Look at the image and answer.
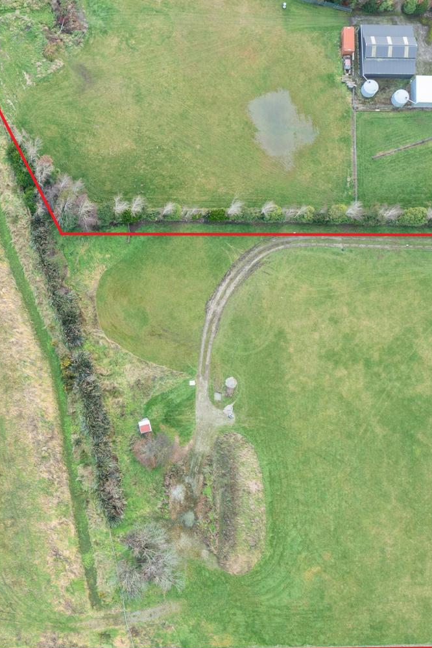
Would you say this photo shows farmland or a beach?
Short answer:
farmland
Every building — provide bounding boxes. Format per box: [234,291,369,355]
[360,23,419,83]
[406,74,432,106]
[139,421,152,435]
